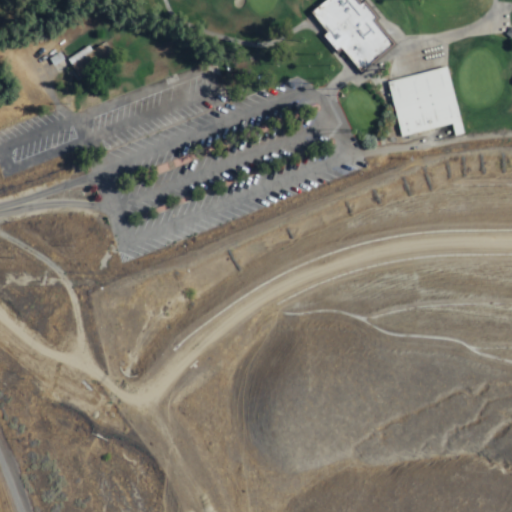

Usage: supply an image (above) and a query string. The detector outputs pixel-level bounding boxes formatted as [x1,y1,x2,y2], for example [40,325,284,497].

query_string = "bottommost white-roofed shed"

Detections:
[389,67,465,136]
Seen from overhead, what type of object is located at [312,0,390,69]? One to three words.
building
